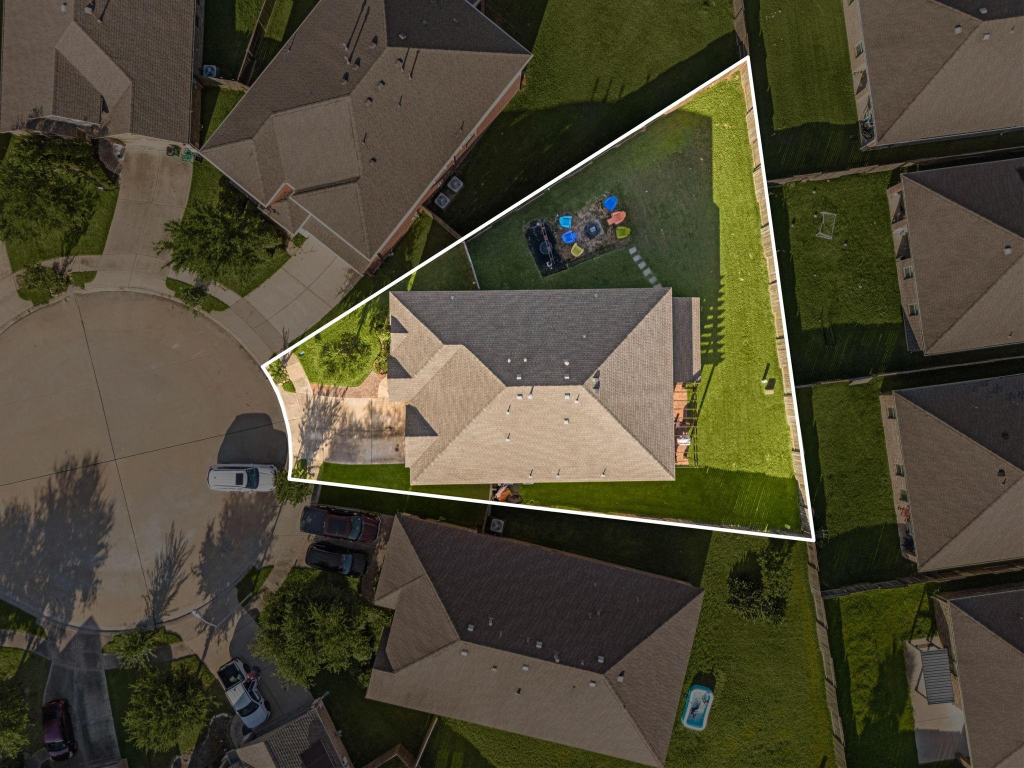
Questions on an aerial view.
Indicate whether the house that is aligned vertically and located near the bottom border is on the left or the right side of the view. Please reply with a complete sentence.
You can find the house that is aligned vertically and located near the bottom border on the right side of the picture.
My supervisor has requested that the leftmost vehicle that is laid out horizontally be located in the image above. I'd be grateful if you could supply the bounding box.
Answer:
[207,462,278,494]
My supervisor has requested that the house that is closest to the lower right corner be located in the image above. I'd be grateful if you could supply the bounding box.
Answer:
[934,582,1024,768]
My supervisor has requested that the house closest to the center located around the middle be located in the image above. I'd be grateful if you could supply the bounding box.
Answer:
[388,287,677,486]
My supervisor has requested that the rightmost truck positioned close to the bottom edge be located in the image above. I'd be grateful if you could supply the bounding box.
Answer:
[214,651,275,730]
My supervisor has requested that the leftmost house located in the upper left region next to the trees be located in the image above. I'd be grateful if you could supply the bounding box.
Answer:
[0,0,206,160]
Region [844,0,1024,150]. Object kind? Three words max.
house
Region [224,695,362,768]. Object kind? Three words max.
house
